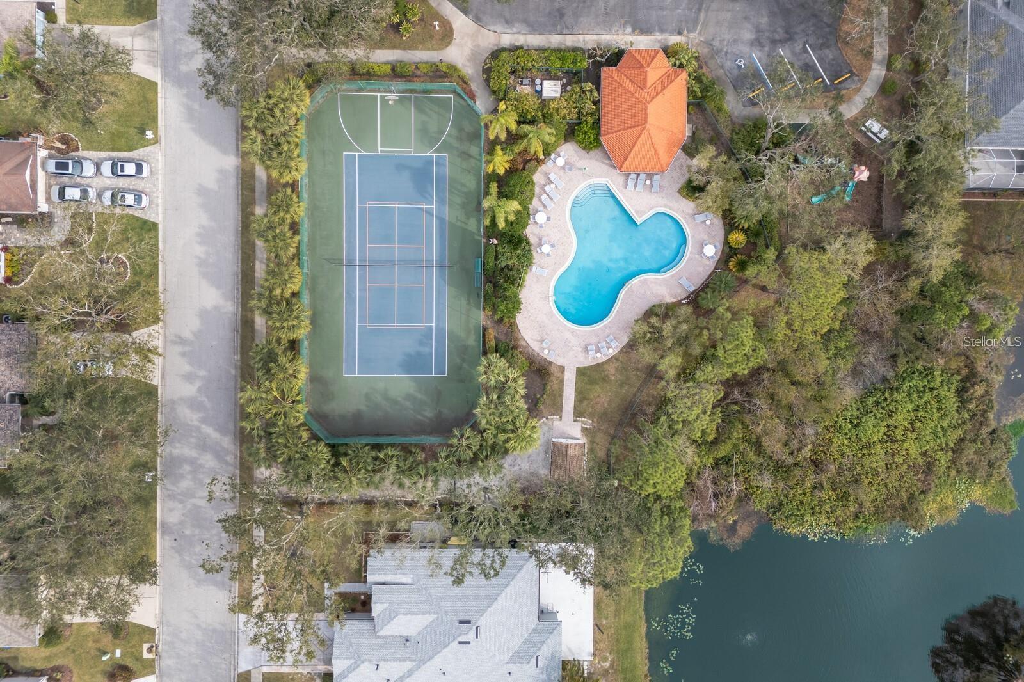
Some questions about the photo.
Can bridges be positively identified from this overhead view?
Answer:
No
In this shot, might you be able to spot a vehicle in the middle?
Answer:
No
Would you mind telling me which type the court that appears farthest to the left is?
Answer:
tennis court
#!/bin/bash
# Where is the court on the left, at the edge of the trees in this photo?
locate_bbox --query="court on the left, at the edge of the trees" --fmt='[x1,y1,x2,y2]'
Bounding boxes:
[310,91,480,435]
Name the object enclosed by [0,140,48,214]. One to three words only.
house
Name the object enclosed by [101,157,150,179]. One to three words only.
car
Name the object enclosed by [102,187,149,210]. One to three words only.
car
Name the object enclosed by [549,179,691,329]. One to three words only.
swimming pool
